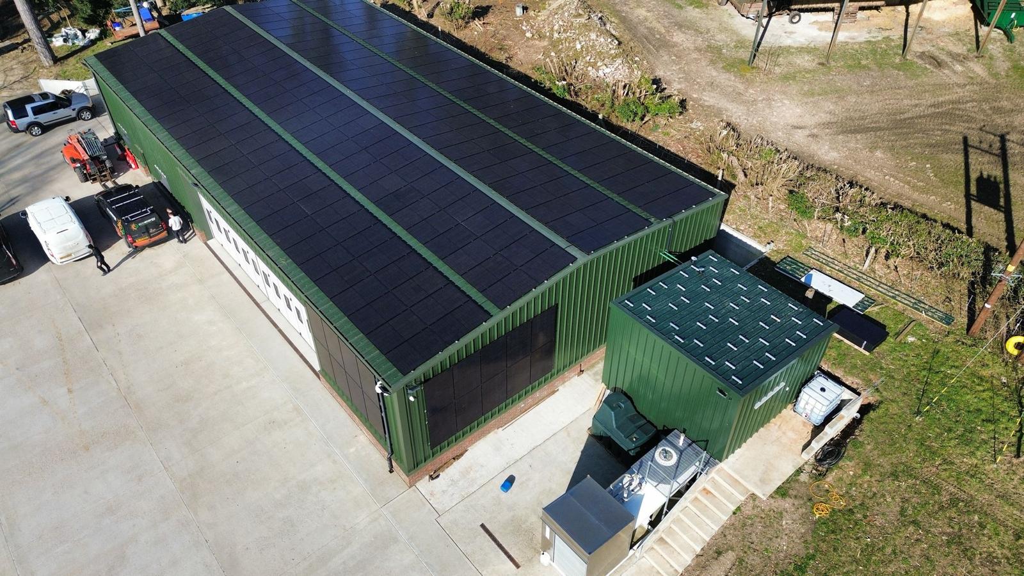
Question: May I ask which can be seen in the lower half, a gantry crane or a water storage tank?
water storage tank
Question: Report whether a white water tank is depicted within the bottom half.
Yes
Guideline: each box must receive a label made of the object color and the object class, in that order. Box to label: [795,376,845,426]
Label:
white water tank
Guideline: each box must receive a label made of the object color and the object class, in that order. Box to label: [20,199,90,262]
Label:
white van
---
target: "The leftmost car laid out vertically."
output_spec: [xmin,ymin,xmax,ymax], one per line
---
[0,225,22,275]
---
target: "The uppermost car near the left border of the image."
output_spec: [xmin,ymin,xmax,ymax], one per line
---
[0,89,99,136]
